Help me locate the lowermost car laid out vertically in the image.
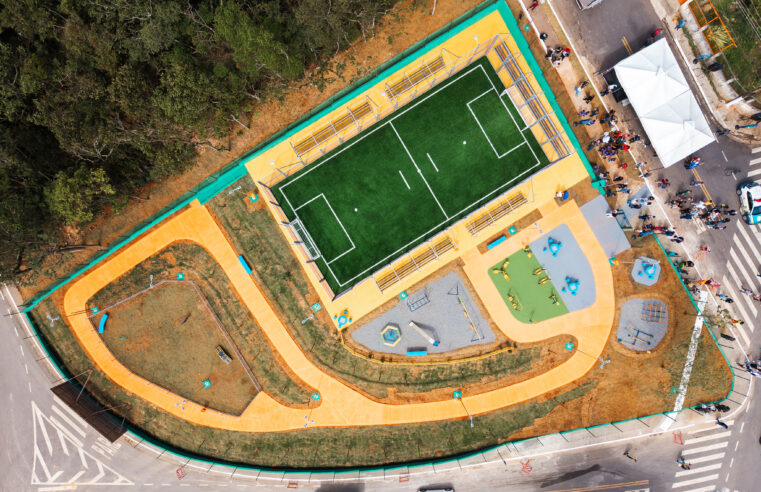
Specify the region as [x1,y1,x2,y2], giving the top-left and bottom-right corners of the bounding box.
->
[739,179,761,223]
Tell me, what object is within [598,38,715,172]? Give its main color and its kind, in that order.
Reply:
white tent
